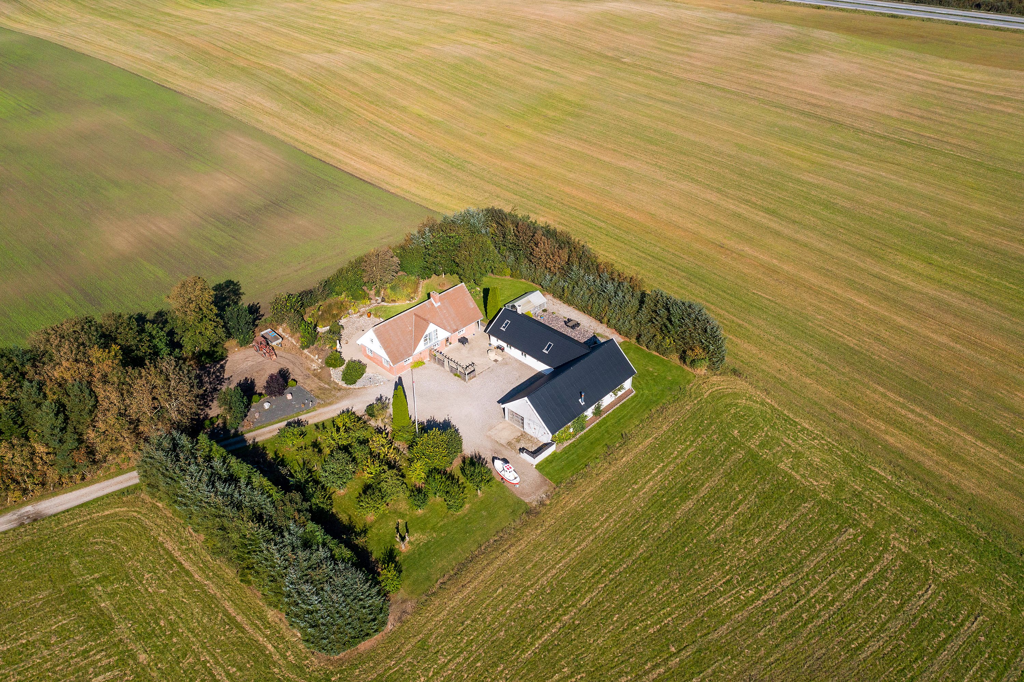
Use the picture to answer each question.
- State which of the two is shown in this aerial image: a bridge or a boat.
boat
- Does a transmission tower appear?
No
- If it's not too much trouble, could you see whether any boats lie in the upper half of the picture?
No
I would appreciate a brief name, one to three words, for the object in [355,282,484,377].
house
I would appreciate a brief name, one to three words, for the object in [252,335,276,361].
work vehicle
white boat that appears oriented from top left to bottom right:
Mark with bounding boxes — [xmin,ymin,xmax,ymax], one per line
[492,455,521,488]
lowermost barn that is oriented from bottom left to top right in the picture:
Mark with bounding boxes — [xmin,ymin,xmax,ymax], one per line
[500,338,637,445]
